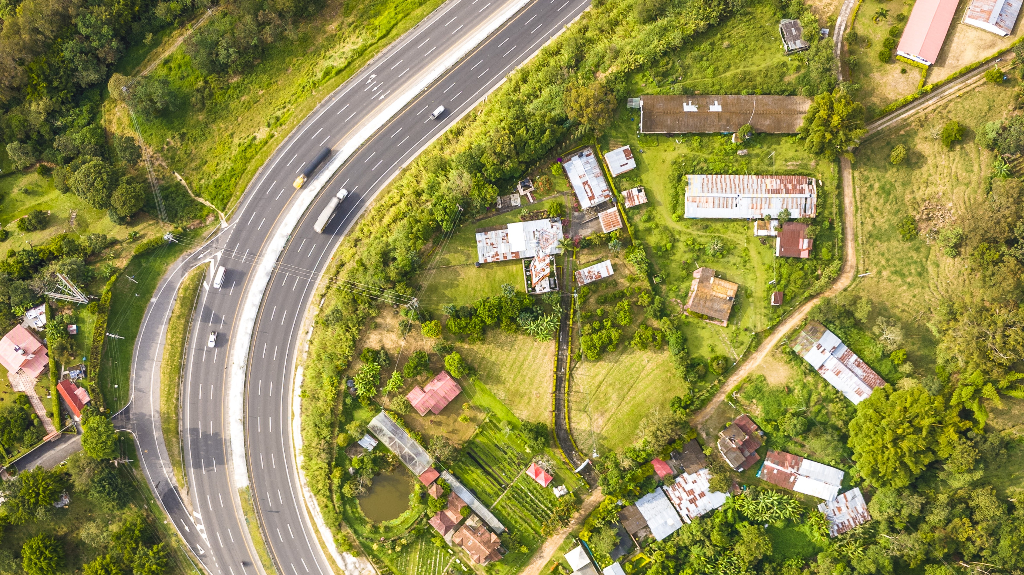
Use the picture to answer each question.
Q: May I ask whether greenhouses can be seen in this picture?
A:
Yes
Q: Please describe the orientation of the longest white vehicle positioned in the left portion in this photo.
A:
at an angle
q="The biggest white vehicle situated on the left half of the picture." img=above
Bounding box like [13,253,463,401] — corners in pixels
[315,191,350,234]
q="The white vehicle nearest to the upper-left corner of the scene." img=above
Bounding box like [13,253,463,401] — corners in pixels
[214,266,227,288]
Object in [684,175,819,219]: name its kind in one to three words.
building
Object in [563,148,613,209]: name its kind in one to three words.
house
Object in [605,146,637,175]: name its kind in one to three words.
shed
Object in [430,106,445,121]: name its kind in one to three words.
vehicle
